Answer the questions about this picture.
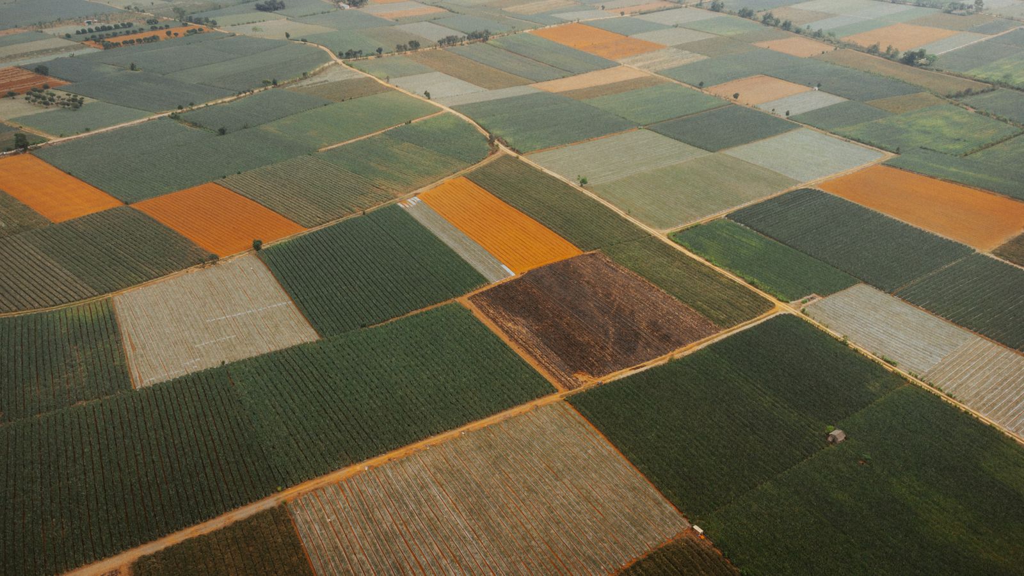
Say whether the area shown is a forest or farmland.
farmland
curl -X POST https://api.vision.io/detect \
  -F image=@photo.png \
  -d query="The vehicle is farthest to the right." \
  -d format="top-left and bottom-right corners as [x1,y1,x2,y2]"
[691,521,708,542]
